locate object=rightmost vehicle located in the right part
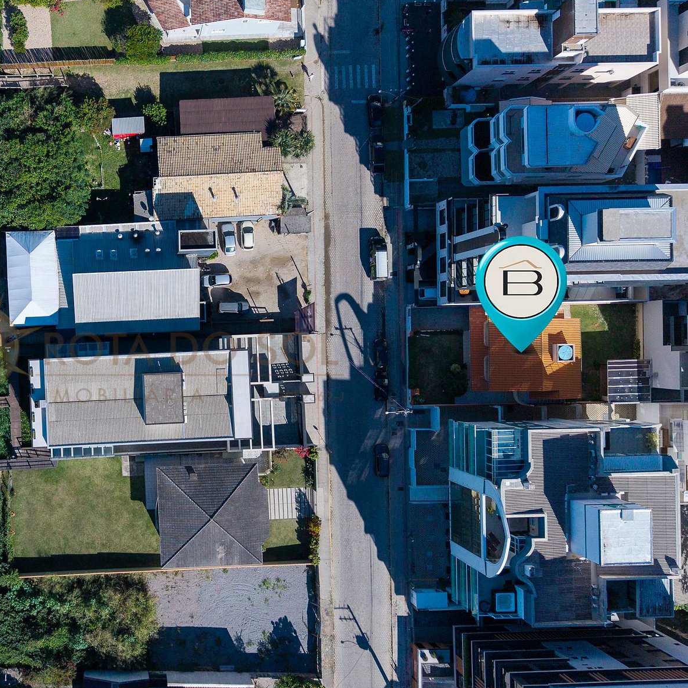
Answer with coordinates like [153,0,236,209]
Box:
[412,285,435,301]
